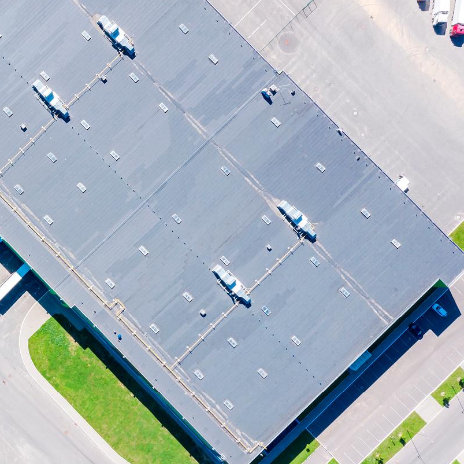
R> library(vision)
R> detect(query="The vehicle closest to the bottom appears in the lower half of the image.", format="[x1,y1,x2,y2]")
[408,324,423,338]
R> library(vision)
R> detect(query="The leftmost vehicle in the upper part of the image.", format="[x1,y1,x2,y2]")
[394,173,411,190]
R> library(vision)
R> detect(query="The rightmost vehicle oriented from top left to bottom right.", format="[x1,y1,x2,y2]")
[432,303,447,317]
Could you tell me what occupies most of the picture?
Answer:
buildings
